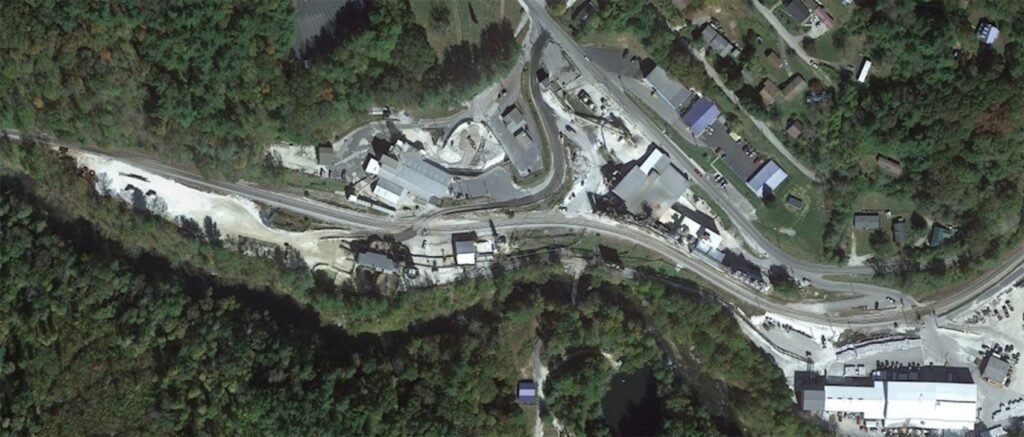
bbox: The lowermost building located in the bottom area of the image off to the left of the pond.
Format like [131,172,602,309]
[519,382,536,404]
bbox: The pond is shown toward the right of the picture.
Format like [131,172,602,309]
[601,370,653,437]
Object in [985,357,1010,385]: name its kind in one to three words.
building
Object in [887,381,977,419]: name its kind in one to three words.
building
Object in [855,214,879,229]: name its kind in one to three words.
house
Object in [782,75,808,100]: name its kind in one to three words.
house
